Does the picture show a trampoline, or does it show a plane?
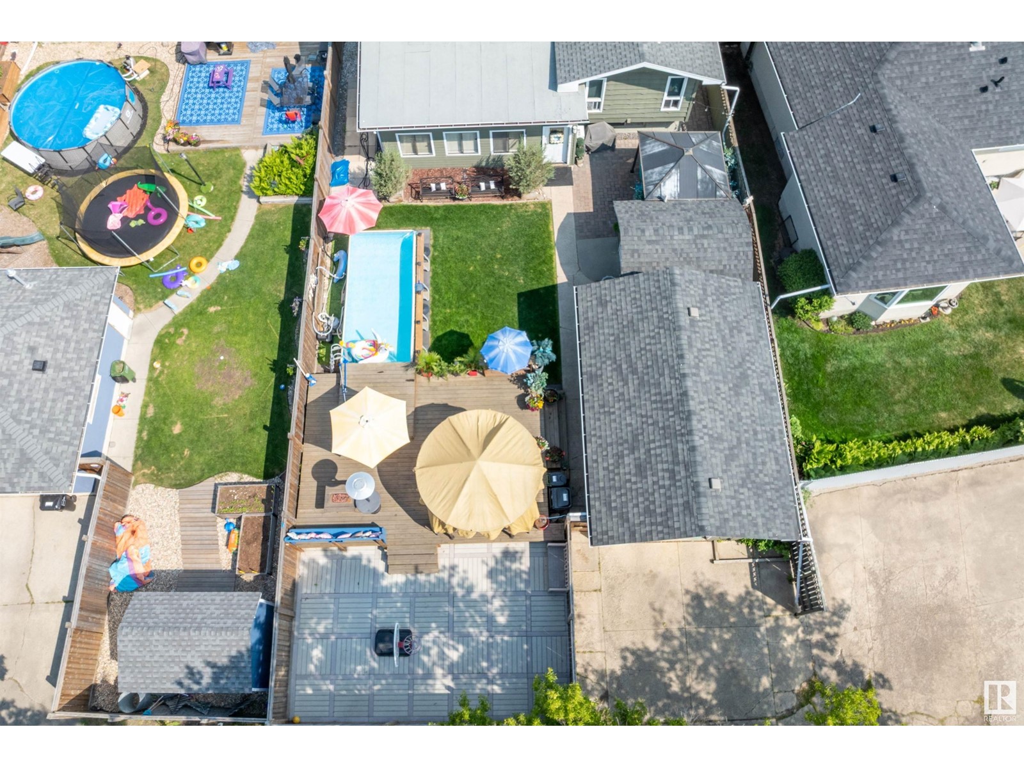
trampoline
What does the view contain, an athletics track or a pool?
pool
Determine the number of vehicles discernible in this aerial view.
zero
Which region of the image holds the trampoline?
top left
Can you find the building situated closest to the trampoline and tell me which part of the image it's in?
left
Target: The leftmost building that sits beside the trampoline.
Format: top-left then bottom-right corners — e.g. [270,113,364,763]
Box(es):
[0,264,143,498]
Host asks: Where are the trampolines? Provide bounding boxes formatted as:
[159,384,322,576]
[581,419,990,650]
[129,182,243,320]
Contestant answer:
[51,141,199,276]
